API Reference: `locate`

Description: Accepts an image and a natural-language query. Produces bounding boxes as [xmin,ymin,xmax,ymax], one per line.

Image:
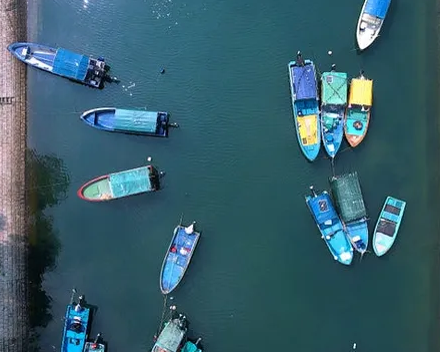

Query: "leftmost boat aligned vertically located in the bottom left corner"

[63,289,89,352]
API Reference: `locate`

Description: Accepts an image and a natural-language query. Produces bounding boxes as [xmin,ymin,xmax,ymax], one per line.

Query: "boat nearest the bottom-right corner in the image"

[374,197,406,257]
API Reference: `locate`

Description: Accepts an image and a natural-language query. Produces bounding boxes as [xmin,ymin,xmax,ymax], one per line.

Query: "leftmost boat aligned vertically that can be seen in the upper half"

[290,53,322,162]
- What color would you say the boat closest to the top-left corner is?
blue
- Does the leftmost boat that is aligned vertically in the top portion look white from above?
No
